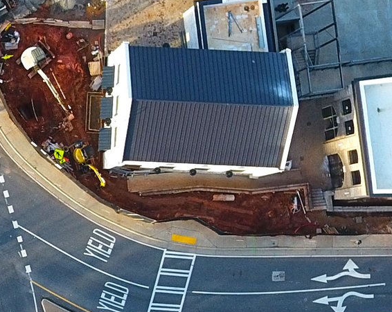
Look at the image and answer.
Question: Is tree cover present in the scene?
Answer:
No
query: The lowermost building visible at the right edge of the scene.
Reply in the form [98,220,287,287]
[315,72,392,207]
